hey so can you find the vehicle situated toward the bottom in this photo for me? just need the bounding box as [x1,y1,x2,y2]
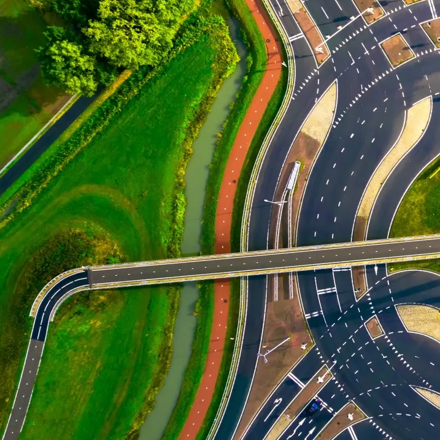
[305,397,321,415]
